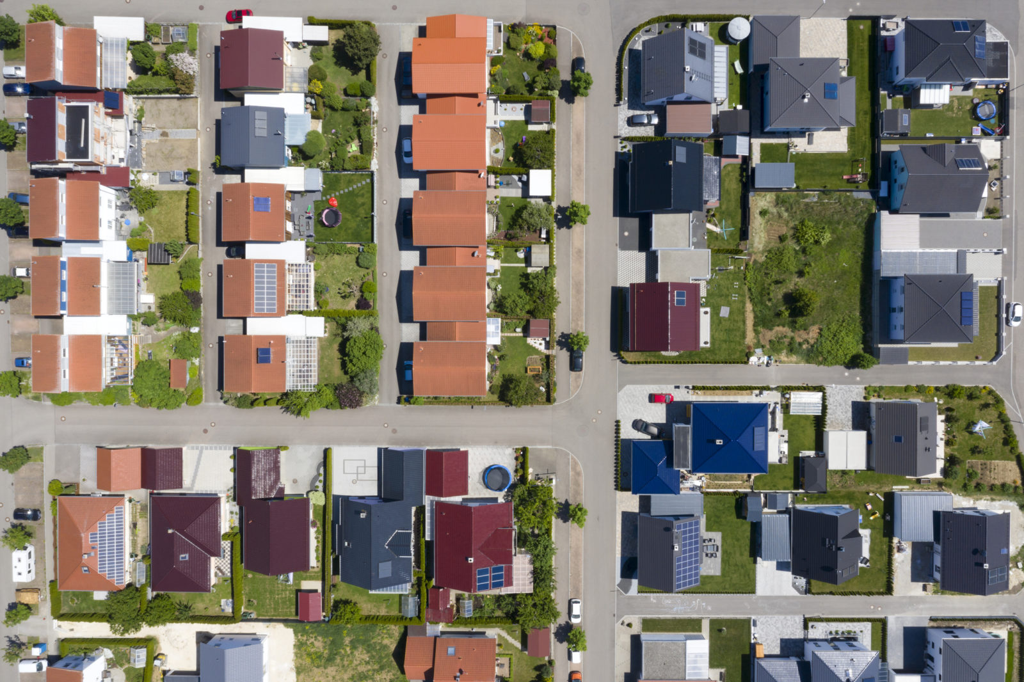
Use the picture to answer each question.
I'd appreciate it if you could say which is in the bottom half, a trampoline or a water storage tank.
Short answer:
trampoline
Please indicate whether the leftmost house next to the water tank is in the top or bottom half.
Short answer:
top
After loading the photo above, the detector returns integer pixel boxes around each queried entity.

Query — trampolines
[483,464,511,493]
[977,98,1000,120]
[320,206,341,227]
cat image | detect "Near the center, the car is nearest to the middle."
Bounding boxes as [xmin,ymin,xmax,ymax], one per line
[571,349,584,372]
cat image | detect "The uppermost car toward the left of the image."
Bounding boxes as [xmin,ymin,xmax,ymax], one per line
[227,9,253,22]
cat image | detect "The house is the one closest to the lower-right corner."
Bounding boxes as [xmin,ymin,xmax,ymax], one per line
[927,629,1005,682]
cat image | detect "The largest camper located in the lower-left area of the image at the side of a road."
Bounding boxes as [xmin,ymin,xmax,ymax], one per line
[13,544,34,583]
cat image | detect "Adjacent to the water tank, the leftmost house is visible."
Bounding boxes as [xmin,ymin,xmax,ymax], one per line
[640,27,714,109]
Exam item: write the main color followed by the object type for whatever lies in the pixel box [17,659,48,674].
white vehicle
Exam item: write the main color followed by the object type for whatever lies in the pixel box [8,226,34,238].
black vehicle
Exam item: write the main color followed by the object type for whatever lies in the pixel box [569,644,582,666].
white vehicle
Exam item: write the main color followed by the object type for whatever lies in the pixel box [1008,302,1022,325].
white car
